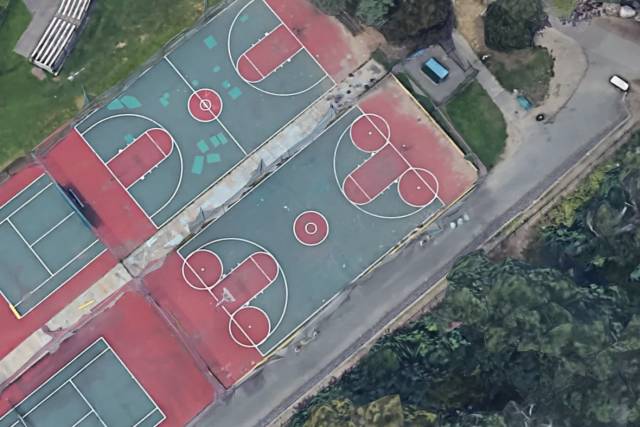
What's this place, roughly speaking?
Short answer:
sports ground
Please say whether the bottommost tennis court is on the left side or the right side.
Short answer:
left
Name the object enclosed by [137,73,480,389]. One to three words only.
basketball court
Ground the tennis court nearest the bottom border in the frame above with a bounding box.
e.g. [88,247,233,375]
[0,279,226,427]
